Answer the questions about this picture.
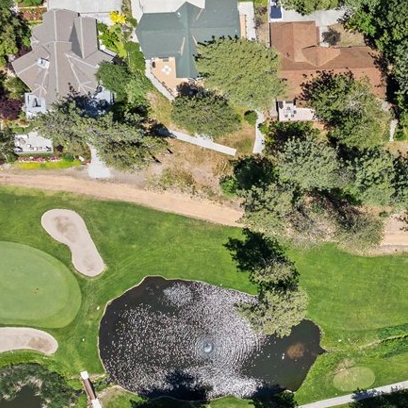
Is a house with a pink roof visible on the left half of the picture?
No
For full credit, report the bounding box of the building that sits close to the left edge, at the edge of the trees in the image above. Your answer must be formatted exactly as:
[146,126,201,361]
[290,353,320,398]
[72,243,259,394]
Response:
[12,9,118,117]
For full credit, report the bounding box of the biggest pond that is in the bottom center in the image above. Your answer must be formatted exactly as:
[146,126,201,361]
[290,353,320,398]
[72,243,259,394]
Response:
[100,276,324,399]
